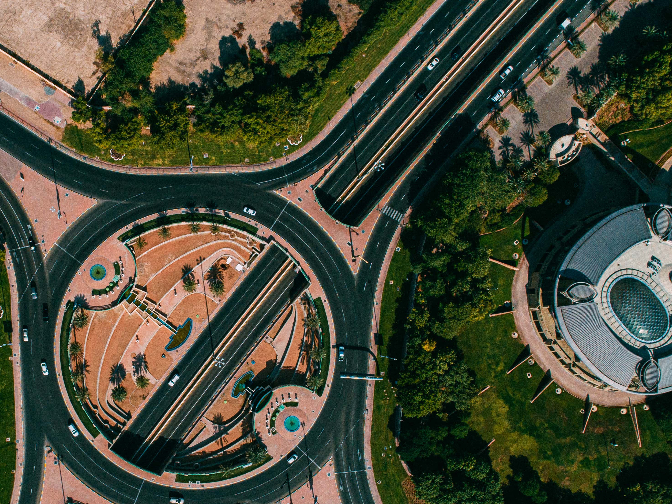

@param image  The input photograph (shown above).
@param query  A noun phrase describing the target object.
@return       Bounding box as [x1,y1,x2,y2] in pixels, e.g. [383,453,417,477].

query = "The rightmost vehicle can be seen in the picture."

[556,13,574,31]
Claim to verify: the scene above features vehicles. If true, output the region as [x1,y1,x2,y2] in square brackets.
[286,454,298,464]
[556,13,574,31]
[67,422,79,437]
[28,236,36,251]
[490,85,504,99]
[167,371,180,385]
[289,264,300,277]
[242,206,257,216]
[450,46,462,60]
[30,284,38,299]
[499,65,514,80]
[41,361,49,376]
[427,57,439,70]
[338,346,345,362]
[23,327,28,341]
[169,497,184,504]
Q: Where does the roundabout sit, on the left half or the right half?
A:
left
